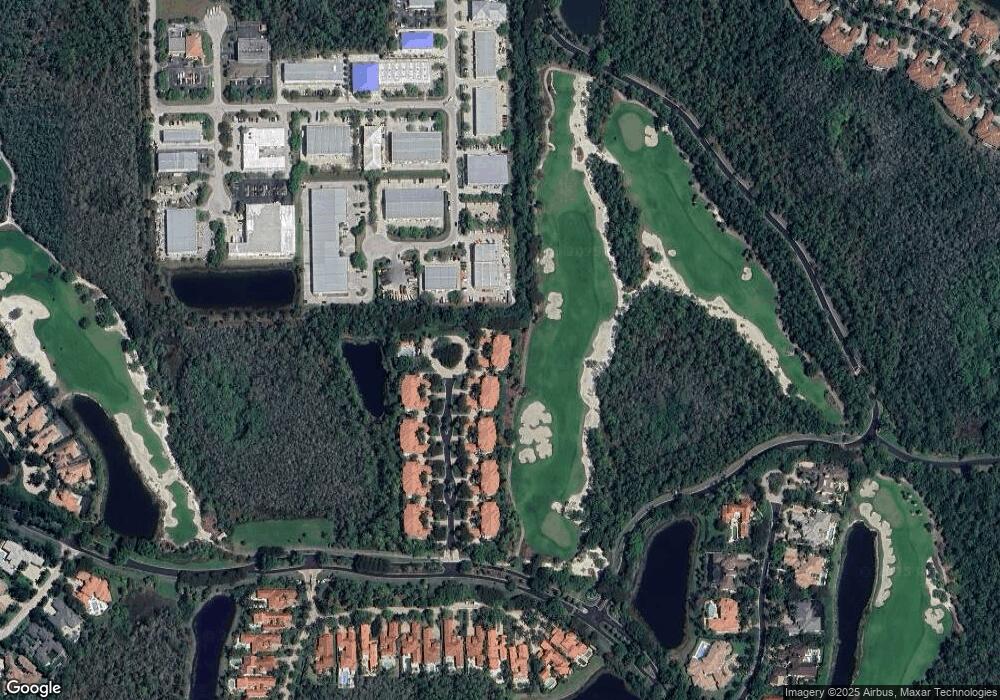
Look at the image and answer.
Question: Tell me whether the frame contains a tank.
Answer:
No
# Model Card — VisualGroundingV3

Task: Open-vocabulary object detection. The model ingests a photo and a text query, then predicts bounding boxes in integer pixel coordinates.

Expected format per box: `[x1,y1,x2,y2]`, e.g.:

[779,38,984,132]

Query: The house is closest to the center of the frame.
[479,334,511,369]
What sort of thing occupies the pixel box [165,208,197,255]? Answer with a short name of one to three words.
building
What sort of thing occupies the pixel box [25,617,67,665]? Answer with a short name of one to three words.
house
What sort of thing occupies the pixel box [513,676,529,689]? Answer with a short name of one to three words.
swimming pool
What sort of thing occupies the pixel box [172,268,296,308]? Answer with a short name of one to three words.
pond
